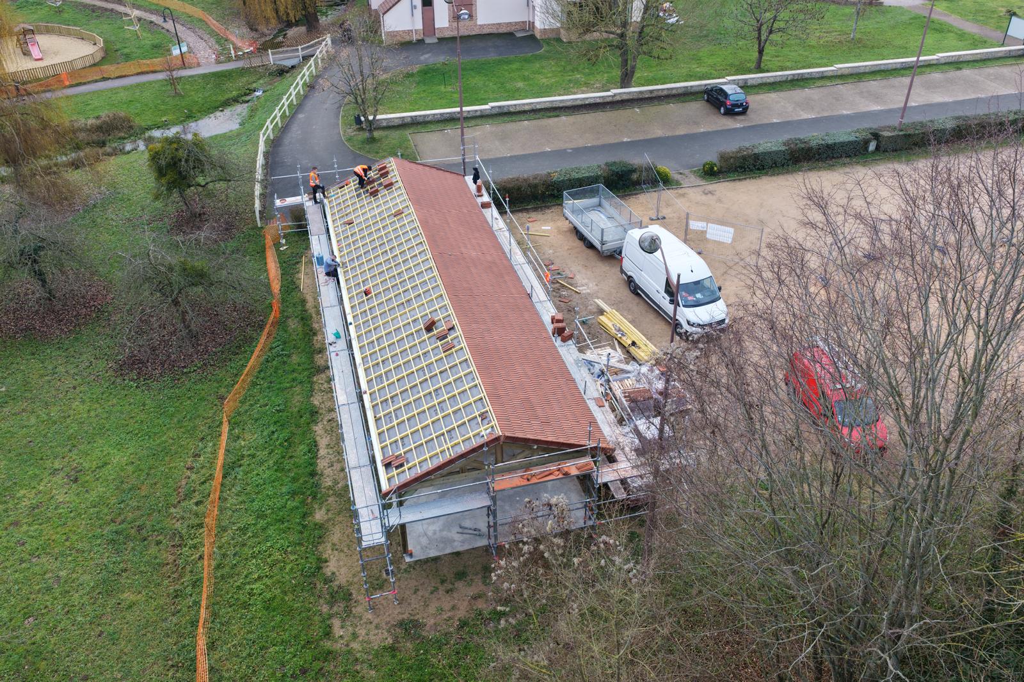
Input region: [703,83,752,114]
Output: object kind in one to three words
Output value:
car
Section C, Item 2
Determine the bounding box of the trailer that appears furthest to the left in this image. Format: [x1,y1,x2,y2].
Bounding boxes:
[564,188,647,256]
